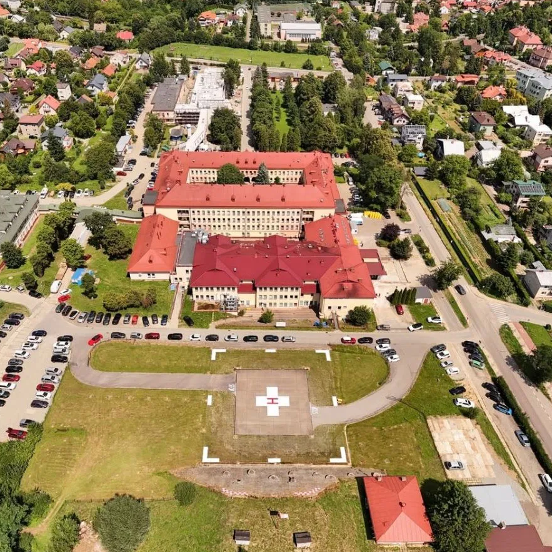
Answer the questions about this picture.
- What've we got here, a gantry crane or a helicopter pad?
helicopter pad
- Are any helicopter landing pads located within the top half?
No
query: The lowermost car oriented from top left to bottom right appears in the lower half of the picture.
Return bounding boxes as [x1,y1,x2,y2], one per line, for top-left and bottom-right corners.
[538,472,552,492]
